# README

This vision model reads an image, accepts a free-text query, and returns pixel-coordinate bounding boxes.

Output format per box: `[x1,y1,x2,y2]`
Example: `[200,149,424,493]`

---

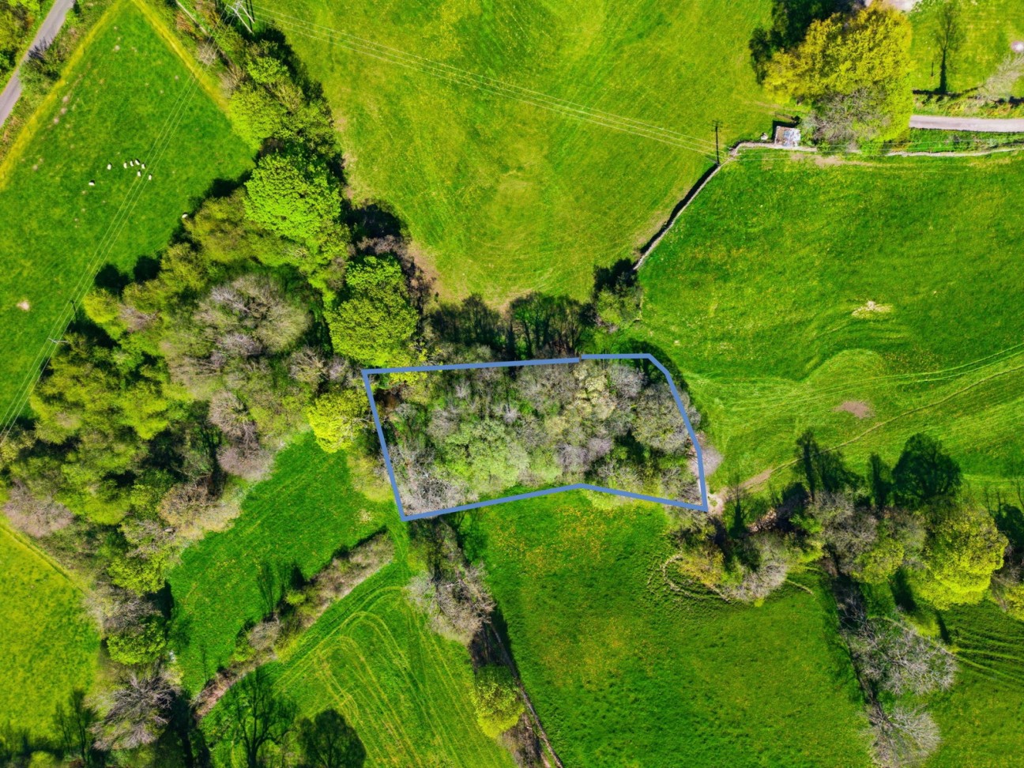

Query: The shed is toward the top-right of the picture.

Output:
[772,127,801,149]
